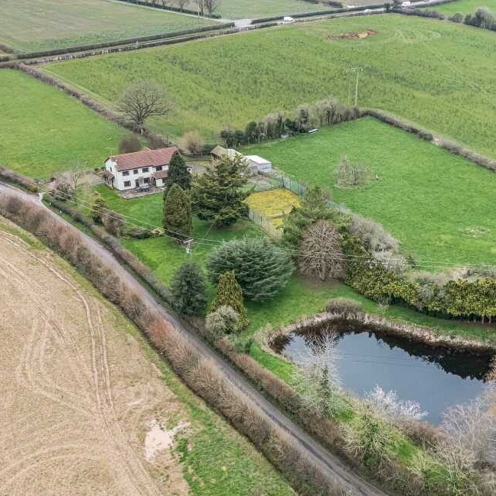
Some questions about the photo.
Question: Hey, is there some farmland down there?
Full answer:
Yes, farmland shows up in the scene.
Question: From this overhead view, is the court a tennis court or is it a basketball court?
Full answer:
I'd say the court is a tennis court.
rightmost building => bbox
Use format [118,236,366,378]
[248,154,275,174]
